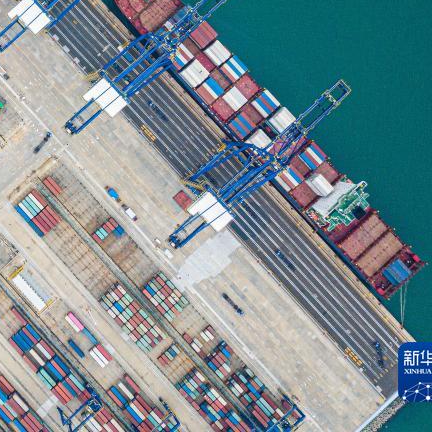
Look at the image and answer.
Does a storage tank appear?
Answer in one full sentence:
No, no storage tank is visible in the scene.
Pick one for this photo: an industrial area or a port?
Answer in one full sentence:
The picture captures a port.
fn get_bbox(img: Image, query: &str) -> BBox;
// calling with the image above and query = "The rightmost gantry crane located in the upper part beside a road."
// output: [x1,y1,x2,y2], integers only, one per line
[165,78,354,252]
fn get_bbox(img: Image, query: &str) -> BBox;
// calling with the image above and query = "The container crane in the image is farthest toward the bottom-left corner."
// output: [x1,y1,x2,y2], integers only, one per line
[56,380,103,432]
